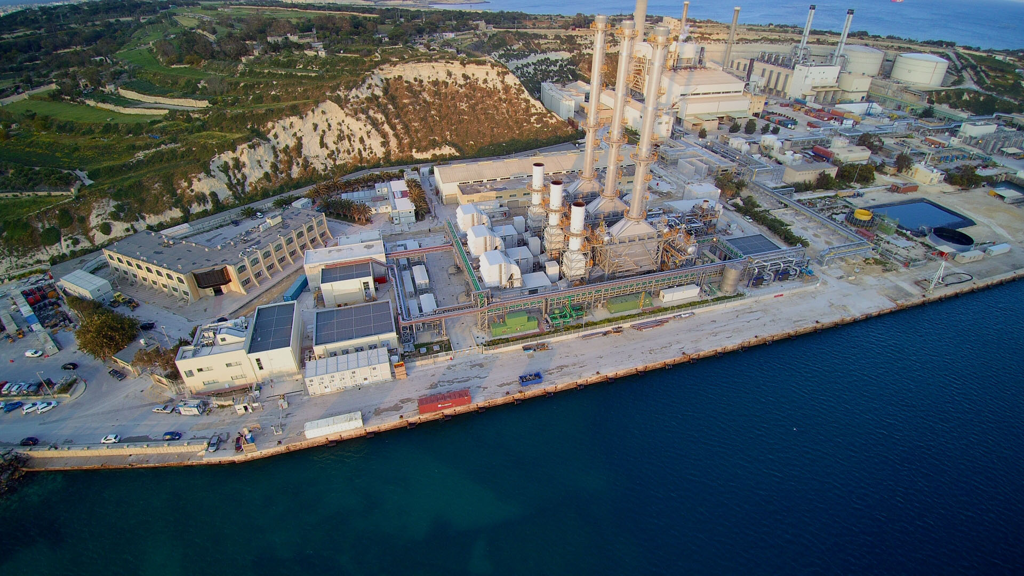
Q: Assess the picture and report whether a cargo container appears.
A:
Yes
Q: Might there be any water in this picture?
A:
Yes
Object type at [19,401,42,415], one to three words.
car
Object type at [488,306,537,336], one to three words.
shipping container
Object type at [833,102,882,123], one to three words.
building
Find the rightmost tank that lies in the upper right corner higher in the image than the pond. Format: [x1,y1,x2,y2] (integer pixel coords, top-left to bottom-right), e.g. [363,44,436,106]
[889,54,956,84]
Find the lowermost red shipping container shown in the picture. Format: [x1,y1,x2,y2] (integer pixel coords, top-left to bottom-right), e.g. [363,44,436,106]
[417,389,470,414]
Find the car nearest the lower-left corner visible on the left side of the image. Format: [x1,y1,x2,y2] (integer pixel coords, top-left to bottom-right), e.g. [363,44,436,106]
[15,435,42,448]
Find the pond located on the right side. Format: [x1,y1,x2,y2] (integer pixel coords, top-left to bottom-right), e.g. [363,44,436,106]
[873,196,977,236]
